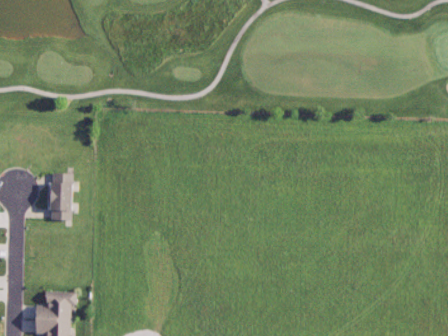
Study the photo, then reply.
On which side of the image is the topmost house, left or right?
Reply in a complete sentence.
The topmost house is on the left side of the image.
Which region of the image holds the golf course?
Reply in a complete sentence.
You can find the golf course in the top right area of the picture.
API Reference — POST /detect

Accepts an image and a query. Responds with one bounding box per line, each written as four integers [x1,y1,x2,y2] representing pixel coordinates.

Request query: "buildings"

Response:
[36,292,75,336]
[50,168,74,226]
